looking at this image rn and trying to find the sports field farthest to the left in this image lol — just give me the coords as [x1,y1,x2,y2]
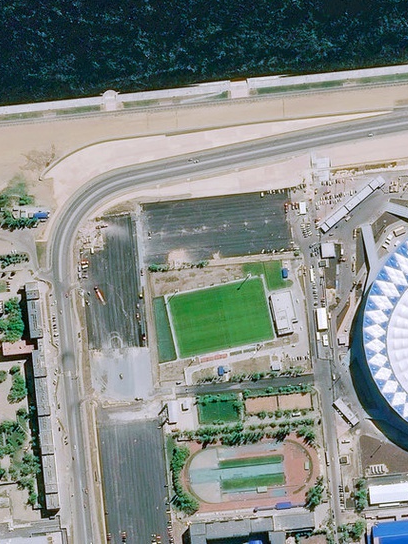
[152,296,177,363]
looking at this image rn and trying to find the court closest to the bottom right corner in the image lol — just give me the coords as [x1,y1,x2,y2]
[279,392,312,411]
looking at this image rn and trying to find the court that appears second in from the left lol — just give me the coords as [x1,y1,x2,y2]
[245,396,278,415]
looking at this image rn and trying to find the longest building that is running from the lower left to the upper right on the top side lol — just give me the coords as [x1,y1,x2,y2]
[321,177,384,230]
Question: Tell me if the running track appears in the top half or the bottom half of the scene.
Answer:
bottom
